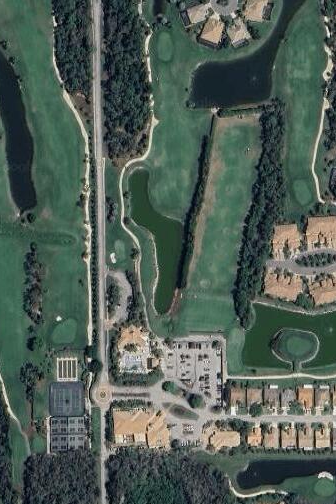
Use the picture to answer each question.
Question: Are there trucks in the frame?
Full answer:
No, the picture doesn't show any truck.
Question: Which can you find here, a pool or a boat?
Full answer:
It is a pool that can be seen here.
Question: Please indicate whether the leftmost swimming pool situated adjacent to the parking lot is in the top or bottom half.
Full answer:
The leftmost swimming pool situated adjacent to the parking lot is in the bottom half of the image.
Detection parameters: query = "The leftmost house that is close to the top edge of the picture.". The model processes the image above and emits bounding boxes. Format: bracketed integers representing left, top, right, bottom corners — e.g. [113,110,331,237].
[184,3,211,23]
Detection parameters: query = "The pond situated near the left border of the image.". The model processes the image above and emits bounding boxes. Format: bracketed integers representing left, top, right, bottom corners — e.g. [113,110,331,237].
[0,51,37,213]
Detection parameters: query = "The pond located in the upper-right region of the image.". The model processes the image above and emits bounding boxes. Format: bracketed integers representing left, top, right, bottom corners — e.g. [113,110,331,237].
[189,0,305,108]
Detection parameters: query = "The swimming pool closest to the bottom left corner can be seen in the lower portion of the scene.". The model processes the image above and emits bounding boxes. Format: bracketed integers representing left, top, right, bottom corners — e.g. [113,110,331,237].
[120,348,149,373]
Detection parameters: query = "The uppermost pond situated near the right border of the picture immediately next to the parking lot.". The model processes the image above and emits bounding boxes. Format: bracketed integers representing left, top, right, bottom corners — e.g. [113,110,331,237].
[242,304,336,368]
